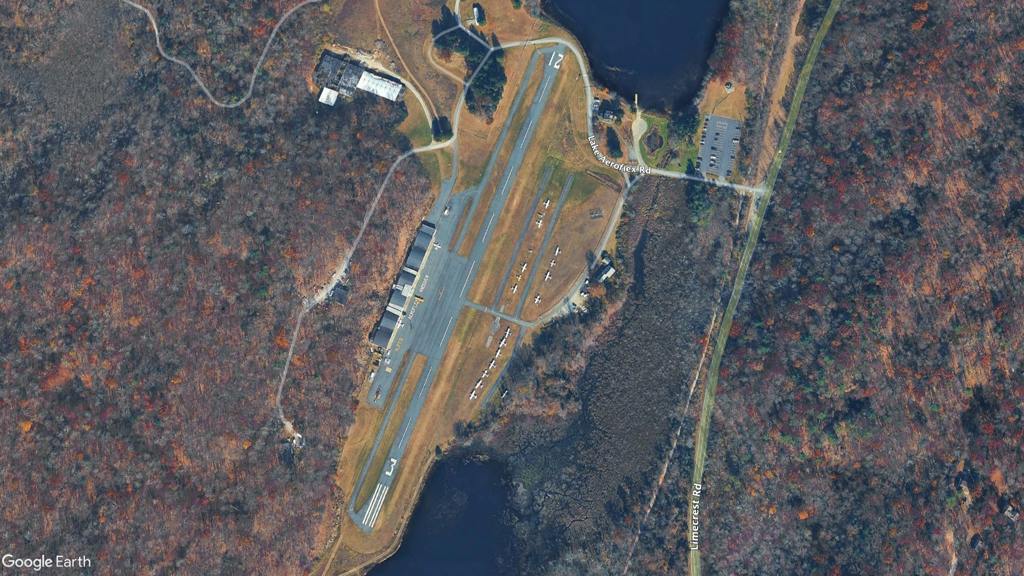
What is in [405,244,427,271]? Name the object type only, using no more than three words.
hangar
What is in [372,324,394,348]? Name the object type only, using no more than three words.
hangar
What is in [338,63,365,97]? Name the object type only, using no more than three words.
building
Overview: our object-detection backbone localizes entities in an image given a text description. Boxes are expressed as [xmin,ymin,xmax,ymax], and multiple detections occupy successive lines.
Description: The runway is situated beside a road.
[360,45,566,533]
